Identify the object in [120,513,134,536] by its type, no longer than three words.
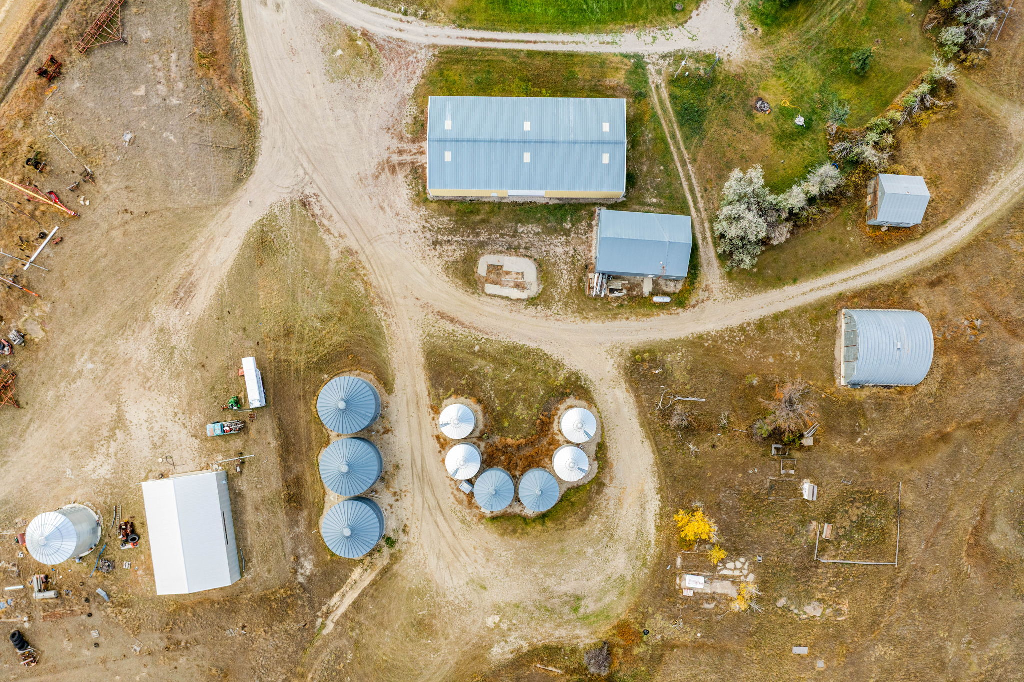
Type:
work vehicle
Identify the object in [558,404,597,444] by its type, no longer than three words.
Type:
silo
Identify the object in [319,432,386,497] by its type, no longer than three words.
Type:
silo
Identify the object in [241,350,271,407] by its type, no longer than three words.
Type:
trailer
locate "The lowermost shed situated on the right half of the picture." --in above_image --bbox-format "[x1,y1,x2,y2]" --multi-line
[842,308,935,386]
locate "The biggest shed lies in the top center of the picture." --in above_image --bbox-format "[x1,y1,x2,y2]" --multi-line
[427,95,628,197]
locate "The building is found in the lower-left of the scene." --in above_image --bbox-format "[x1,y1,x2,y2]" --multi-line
[136,462,240,596]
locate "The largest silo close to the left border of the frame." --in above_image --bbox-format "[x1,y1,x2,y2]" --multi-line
[26,502,103,565]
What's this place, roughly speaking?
industrial area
